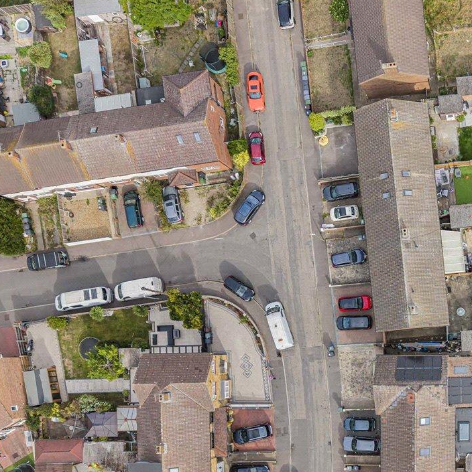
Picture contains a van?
Yes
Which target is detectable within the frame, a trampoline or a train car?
trampoline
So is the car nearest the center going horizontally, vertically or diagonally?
diagonally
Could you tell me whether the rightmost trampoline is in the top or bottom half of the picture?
top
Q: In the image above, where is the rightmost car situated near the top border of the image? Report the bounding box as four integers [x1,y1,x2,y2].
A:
[275,0,296,29]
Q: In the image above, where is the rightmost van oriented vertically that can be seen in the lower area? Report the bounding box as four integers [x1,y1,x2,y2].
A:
[265,301,294,350]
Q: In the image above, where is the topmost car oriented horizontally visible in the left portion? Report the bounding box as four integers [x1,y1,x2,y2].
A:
[27,251,71,271]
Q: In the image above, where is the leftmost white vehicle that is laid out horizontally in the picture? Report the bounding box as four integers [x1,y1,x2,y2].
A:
[60,287,109,311]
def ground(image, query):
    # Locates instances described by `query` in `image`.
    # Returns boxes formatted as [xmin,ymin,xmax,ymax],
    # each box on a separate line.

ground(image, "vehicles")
[321,181,360,202]
[338,294,373,312]
[331,248,366,267]
[343,436,379,453]
[115,277,165,301]
[27,251,71,271]
[231,422,274,445]
[265,301,294,350]
[330,205,360,222]
[232,188,266,228]
[60,287,109,311]
[222,273,256,304]
[336,314,372,332]
[275,0,296,29]
[343,415,376,432]
[247,132,266,166]
[122,189,147,229]
[162,186,184,224]
[230,464,271,472]
[246,71,266,113]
